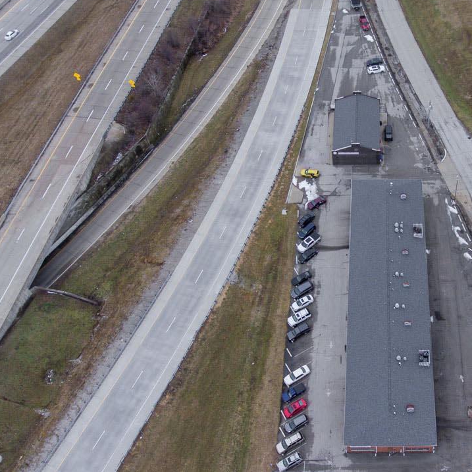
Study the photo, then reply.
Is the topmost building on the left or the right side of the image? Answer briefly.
right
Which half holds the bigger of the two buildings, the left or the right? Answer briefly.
right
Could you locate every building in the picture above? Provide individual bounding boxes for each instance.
[332,94,382,165]
[343,177,437,452]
